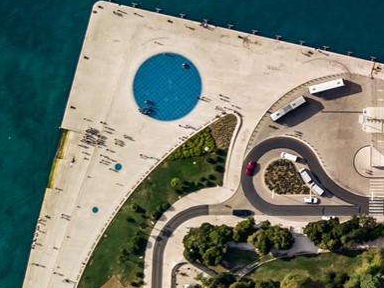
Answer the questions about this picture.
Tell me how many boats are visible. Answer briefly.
zero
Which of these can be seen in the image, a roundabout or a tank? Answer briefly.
roundabout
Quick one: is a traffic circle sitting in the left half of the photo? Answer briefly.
No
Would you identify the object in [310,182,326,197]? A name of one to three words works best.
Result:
vehicle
